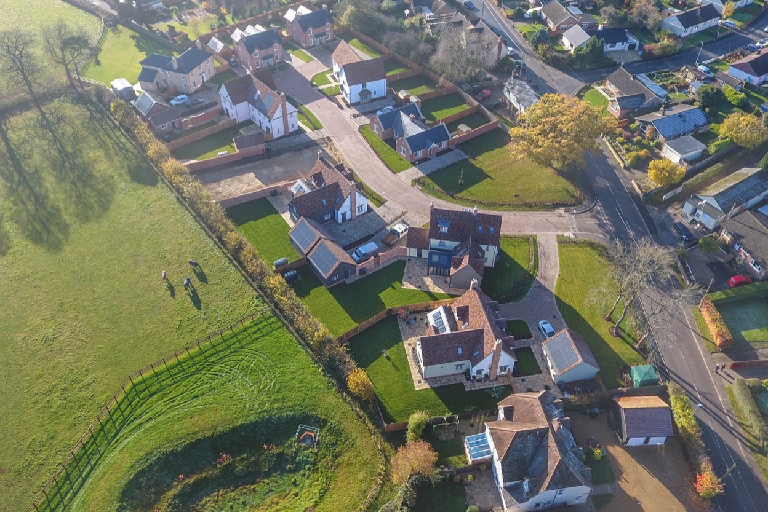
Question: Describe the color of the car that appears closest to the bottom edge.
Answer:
blue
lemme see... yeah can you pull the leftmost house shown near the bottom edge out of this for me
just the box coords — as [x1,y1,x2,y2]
[464,398,586,512]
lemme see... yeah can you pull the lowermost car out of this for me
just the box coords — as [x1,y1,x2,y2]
[534,316,557,340]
